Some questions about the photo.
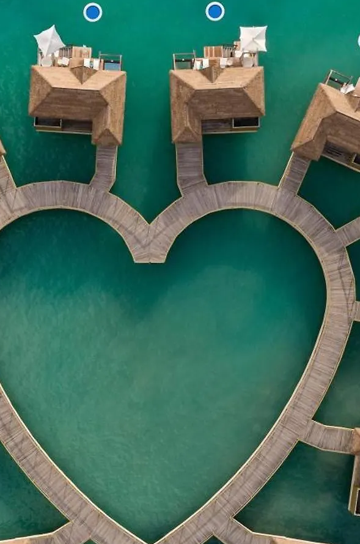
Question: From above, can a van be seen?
No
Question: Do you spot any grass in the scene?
No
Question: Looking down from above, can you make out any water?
Yes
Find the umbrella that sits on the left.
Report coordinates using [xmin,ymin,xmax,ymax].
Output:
[33,25,65,56]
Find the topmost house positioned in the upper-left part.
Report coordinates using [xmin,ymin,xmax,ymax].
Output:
[29,41,126,145]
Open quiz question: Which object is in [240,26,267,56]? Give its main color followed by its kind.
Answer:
white umbrella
